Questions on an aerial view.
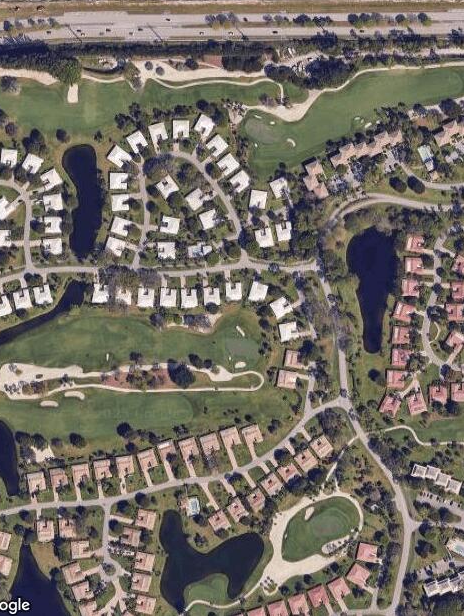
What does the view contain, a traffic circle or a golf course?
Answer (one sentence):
The image shows a golf course.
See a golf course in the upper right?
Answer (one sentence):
Yes, a golf course shows up in the upper right.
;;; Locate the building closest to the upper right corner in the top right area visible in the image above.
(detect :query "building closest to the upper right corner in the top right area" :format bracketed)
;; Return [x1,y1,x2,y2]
[433,118,464,148]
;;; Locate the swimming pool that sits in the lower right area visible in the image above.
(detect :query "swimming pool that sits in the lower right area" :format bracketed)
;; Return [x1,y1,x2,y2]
[447,537,464,556]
